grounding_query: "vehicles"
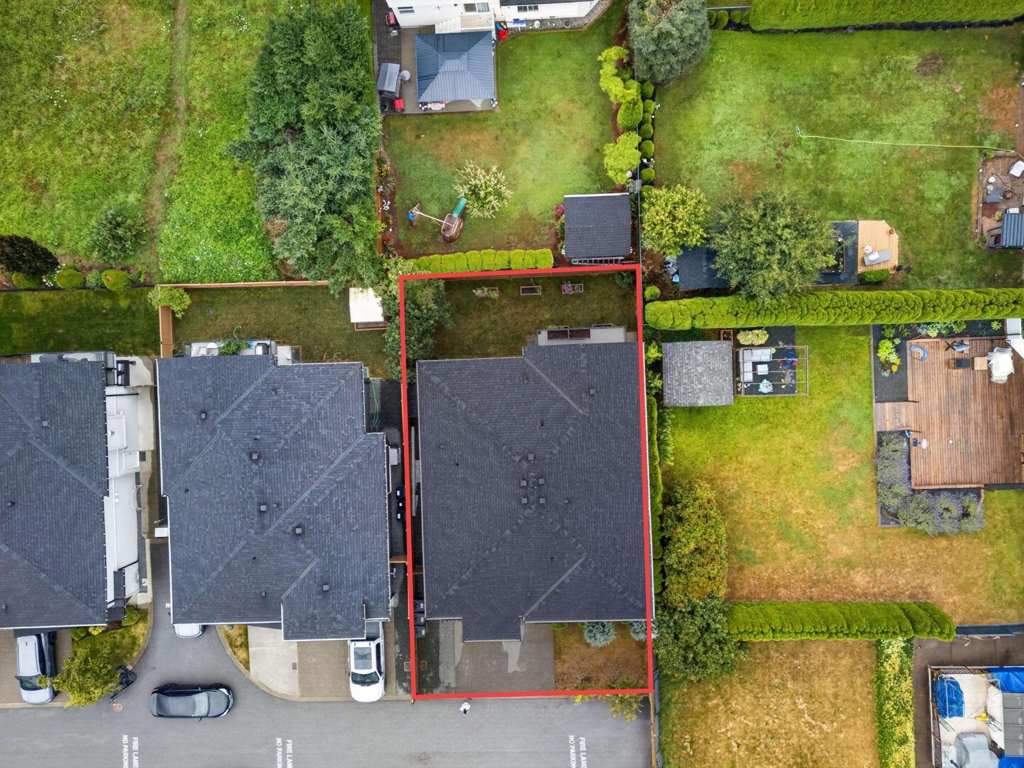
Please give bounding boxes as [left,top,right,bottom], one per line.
[345,621,386,700]
[149,681,235,722]
[173,625,206,639]
[12,627,58,706]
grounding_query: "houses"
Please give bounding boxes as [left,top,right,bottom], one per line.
[0,362,146,630]
[390,0,595,33]
[154,355,395,642]
[415,342,651,642]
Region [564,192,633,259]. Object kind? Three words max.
shed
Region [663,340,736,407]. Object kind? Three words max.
shed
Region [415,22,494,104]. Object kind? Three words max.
gazebo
